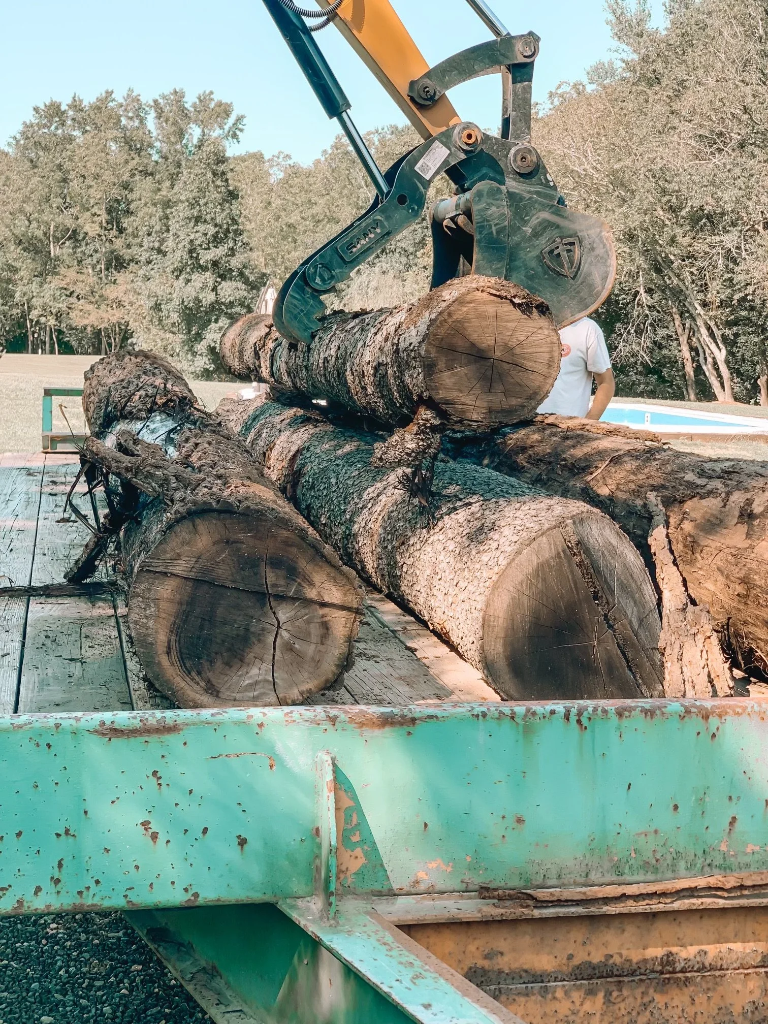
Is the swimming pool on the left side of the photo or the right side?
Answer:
right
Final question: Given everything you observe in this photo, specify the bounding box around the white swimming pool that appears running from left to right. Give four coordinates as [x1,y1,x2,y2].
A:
[586,404,768,441]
